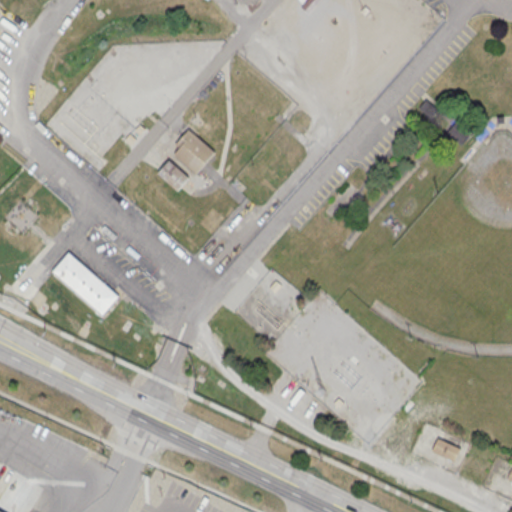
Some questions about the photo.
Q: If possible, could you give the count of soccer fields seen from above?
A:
none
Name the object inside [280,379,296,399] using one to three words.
vehicle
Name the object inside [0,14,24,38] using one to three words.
truck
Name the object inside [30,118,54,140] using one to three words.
truck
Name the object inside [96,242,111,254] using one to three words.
vehicle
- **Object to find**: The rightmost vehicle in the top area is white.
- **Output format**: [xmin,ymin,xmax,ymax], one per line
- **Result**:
[336,163,350,178]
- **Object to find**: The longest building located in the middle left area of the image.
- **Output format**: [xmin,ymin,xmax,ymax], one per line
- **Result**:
[52,252,122,318]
